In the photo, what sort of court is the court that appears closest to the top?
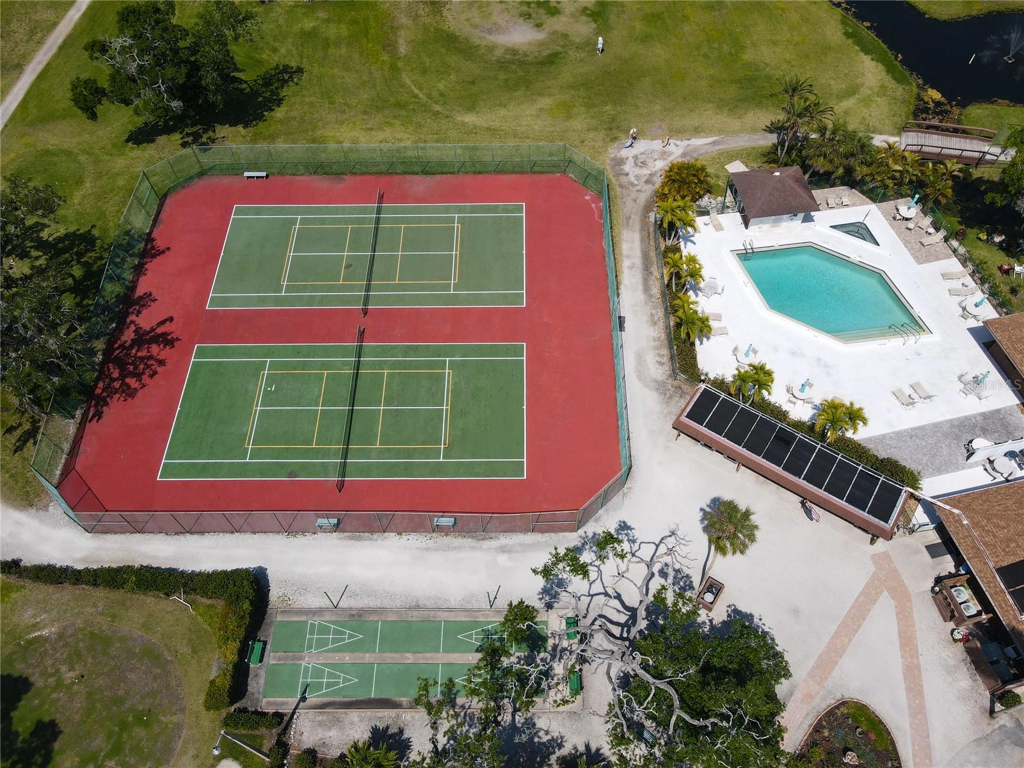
tennis court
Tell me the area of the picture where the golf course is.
top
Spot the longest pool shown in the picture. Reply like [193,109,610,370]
[731,241,933,343]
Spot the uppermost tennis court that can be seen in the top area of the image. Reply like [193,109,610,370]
[206,203,526,308]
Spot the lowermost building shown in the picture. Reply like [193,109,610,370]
[909,477,1024,660]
